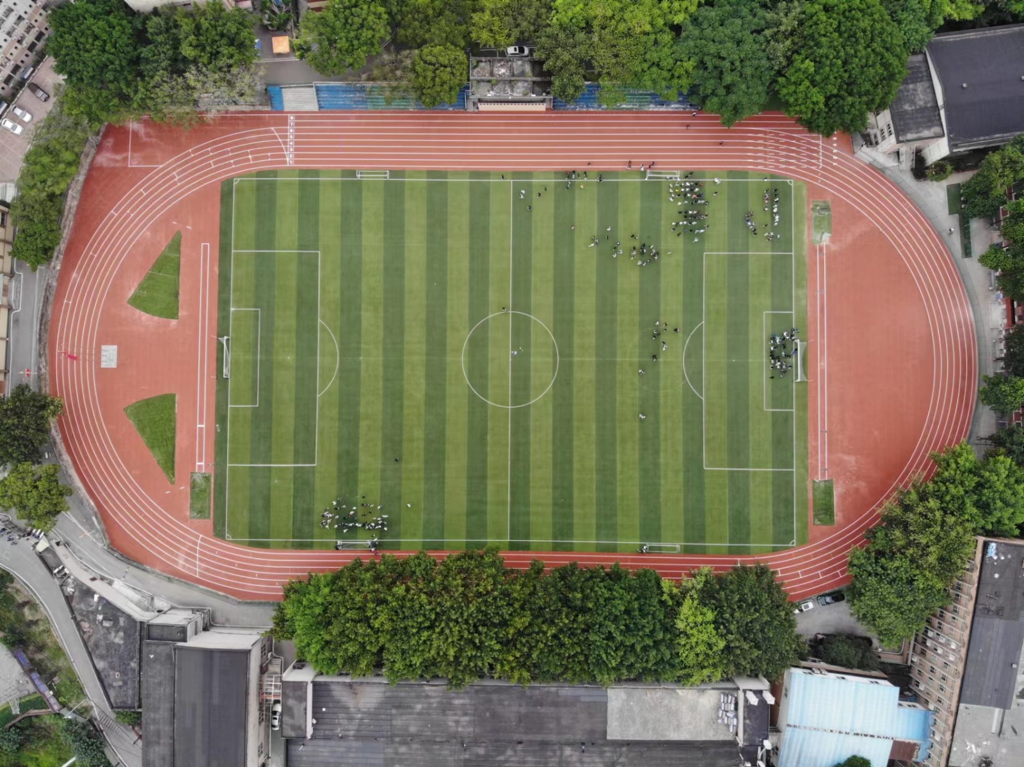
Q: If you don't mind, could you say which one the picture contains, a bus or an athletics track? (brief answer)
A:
athletics track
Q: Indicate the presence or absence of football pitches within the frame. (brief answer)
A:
Yes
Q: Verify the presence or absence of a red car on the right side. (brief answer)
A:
No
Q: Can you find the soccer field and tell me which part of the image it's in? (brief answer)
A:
center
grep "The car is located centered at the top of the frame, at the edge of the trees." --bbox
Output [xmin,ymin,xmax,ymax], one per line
[506,45,530,57]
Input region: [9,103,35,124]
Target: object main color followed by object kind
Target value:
white car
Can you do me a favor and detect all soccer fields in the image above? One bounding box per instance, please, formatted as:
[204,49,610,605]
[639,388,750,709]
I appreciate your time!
[213,170,805,555]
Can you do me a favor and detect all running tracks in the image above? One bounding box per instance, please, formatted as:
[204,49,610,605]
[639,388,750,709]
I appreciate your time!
[51,110,977,602]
